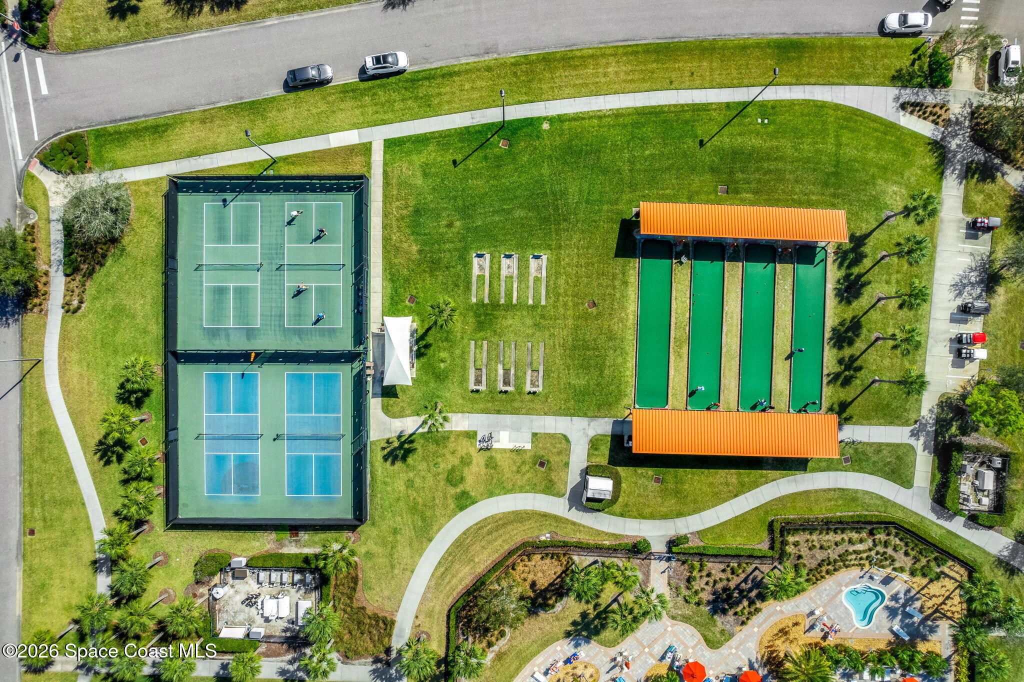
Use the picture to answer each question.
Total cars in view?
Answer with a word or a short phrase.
4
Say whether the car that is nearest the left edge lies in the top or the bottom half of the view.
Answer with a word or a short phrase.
top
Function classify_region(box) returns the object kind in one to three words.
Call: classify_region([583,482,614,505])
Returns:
shed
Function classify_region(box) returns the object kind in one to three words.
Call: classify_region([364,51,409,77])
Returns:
car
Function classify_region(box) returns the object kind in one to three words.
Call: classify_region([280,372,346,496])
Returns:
sports court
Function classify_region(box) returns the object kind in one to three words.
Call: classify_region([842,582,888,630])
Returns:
swimming pool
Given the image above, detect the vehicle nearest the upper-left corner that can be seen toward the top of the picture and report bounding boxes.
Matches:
[287,64,333,88]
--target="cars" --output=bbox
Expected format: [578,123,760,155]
[995,42,1022,87]
[884,12,930,35]
[287,64,333,88]
[364,51,409,77]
